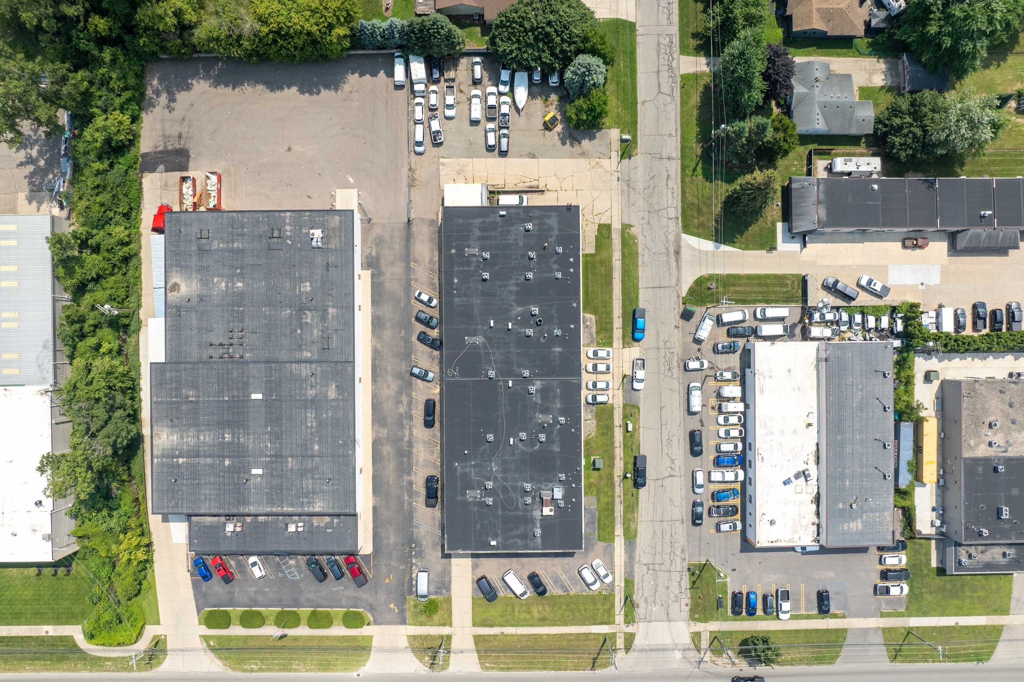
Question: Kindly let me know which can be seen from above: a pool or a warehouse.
warehouse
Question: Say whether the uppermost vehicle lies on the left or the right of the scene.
right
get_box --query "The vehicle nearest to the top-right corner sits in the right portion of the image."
[872,0,910,29]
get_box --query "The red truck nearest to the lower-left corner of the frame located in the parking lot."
[211,555,235,586]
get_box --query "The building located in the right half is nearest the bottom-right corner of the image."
[917,378,1024,575]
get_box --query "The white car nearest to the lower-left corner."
[248,555,266,581]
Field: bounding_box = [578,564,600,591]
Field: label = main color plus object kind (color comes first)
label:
white car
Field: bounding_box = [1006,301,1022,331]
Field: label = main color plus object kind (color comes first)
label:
gray vehicle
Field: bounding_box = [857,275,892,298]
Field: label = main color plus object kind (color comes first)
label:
white truck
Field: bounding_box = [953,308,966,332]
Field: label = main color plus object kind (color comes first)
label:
gray vehicle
